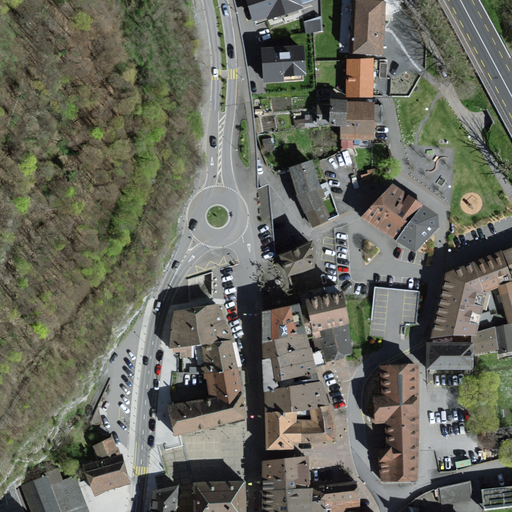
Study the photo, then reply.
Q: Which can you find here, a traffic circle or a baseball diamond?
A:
traffic circle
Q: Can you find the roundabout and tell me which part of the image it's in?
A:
center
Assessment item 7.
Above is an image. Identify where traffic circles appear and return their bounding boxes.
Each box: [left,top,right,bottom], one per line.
[186,185,249,248]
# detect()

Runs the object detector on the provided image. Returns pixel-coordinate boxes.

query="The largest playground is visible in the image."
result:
[397,146,454,206]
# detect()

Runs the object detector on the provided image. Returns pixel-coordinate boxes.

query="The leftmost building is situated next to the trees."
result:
[20,467,90,512]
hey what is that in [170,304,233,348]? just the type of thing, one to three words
house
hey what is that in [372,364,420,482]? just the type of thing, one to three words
building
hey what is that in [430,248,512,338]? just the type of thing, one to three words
building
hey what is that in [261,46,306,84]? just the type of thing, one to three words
house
